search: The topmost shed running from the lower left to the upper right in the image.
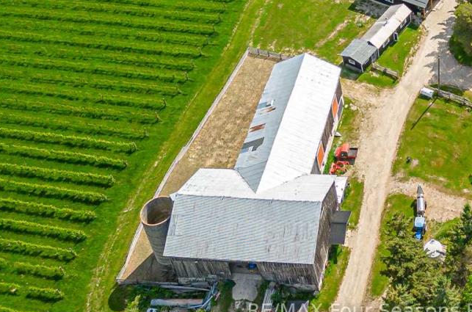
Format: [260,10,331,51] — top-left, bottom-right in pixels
[340,5,418,80]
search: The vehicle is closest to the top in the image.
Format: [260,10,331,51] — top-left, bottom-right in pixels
[331,145,362,163]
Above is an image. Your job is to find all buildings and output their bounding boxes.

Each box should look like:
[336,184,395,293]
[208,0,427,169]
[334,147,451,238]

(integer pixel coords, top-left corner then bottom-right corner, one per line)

[162,47,353,290]
[340,5,418,80]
